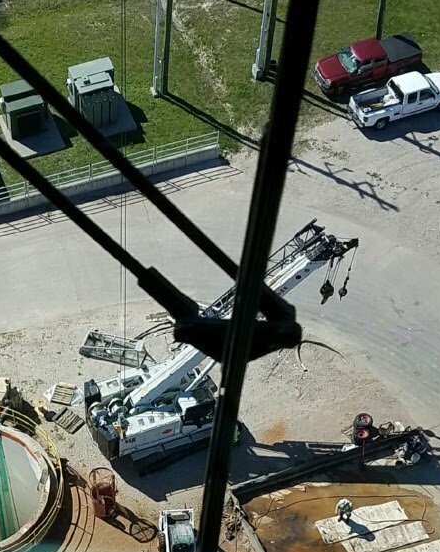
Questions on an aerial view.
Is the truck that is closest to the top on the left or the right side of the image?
right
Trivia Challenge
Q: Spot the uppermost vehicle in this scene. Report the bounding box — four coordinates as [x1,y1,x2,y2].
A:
[306,33,426,96]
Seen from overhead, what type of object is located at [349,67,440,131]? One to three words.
truck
